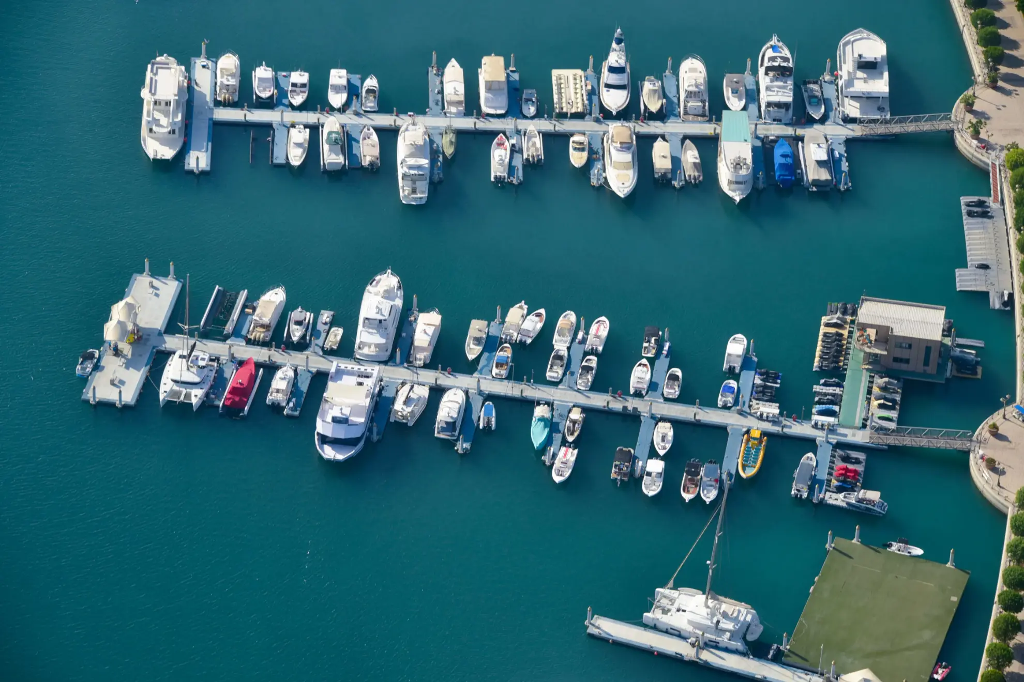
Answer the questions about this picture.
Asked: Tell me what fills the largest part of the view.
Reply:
water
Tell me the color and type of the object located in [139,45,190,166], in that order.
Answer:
white vessel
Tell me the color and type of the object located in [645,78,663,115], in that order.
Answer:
white boat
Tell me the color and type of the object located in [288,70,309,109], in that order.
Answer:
white boat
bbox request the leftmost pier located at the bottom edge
[587,615,696,663]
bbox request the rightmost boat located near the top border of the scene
[836,26,888,123]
